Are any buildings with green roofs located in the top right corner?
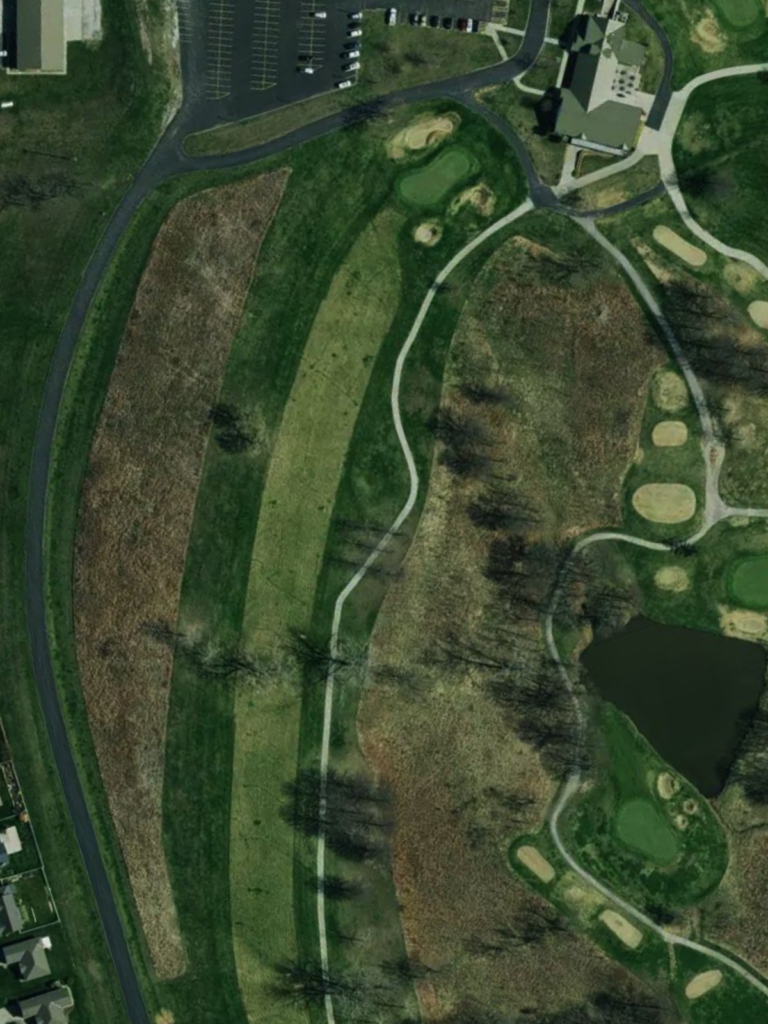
Yes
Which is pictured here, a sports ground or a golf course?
golf course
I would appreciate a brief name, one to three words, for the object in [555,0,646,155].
building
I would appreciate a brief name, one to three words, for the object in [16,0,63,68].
barn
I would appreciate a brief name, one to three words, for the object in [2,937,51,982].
house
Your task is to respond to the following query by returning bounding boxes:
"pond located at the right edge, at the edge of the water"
[577,613,768,802]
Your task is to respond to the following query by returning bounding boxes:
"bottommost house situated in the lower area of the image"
[18,987,73,1024]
